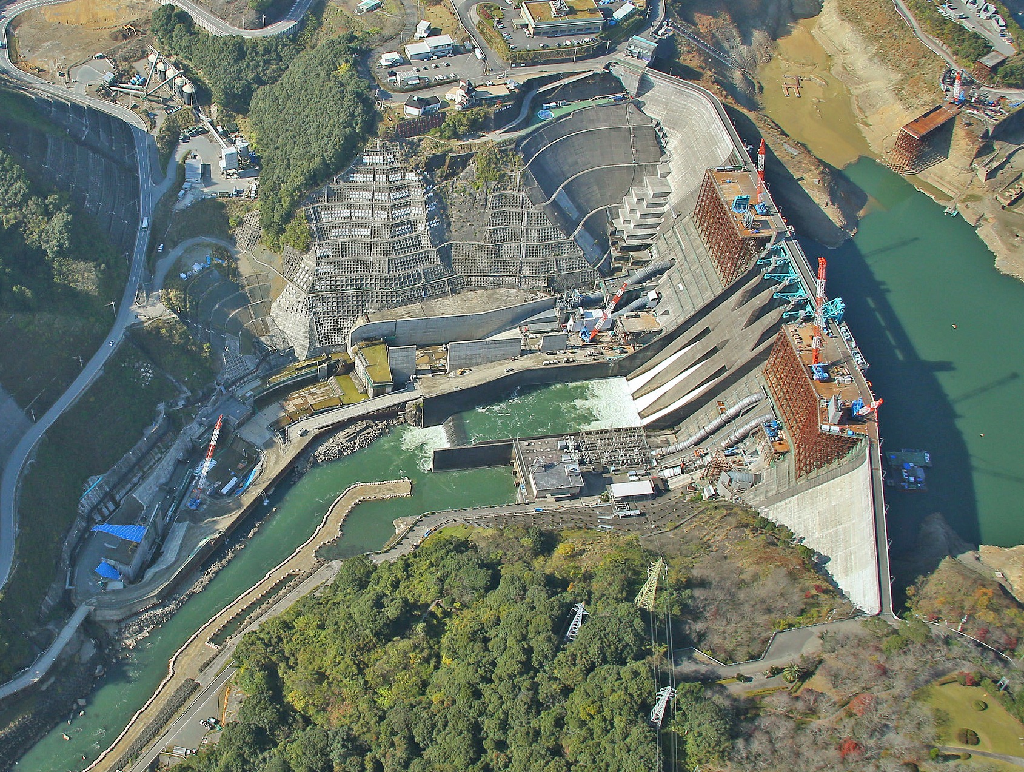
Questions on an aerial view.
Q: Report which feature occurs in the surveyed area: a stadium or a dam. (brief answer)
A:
dam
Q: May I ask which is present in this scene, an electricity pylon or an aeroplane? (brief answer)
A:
electricity pylon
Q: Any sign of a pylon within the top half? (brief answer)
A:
No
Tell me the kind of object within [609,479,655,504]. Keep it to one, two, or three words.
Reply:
building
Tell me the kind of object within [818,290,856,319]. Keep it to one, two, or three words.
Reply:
container crane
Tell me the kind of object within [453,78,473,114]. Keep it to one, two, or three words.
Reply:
house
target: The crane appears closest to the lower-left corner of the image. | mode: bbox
[183,416,223,512]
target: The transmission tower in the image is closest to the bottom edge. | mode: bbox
[649,683,682,728]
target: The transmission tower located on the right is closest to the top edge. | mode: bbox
[637,558,672,615]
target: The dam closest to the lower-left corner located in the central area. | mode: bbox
[441,411,467,445]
